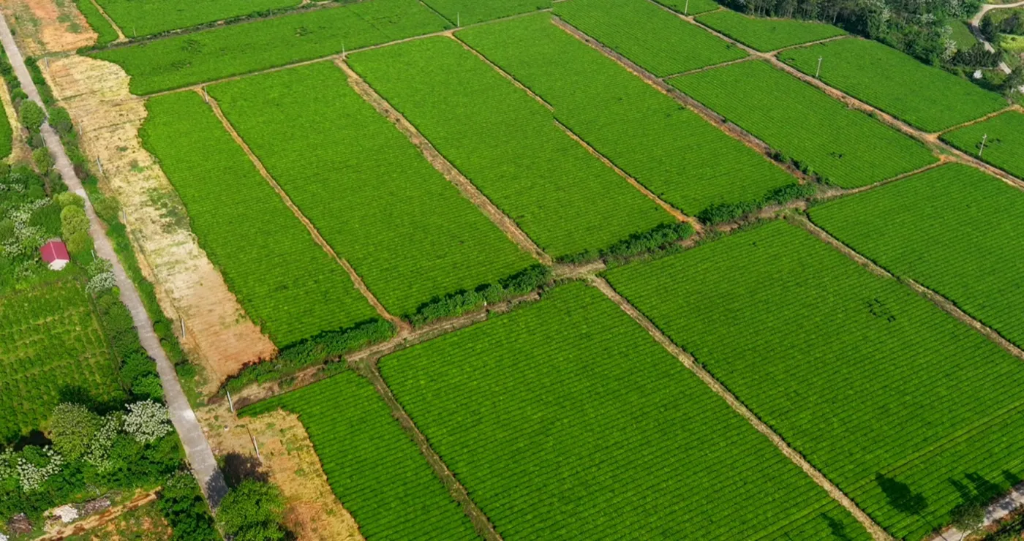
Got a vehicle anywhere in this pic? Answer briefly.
No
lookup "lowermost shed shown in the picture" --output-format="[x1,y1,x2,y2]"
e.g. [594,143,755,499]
[39,240,70,272]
